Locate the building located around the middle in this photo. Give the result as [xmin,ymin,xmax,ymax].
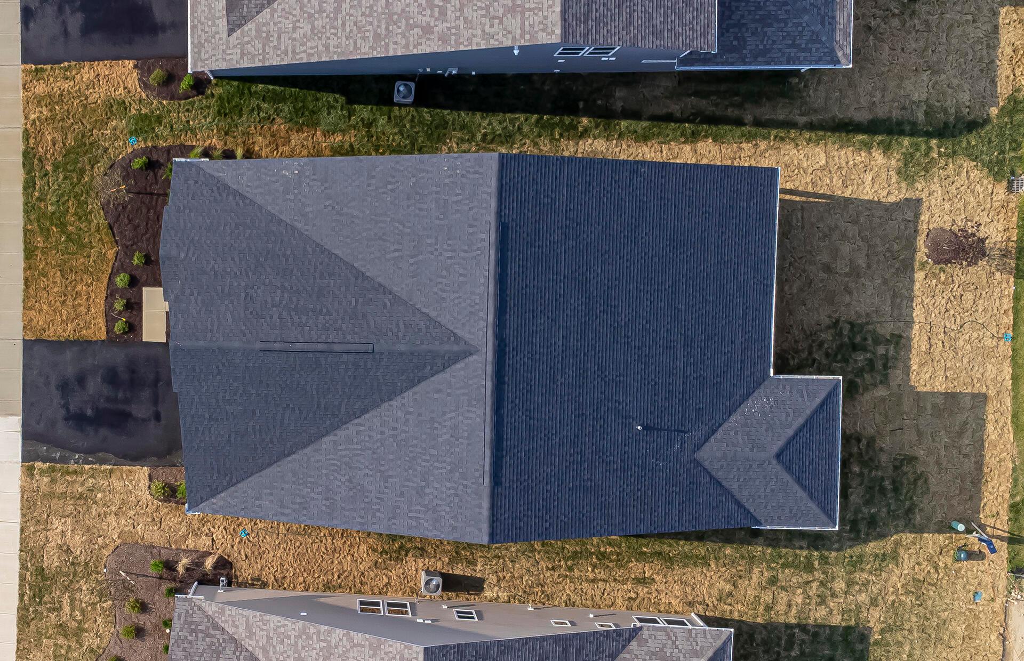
[160,153,843,544]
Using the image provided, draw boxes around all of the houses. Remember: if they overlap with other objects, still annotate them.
[168,579,735,661]
[186,0,854,86]
[160,153,843,544]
